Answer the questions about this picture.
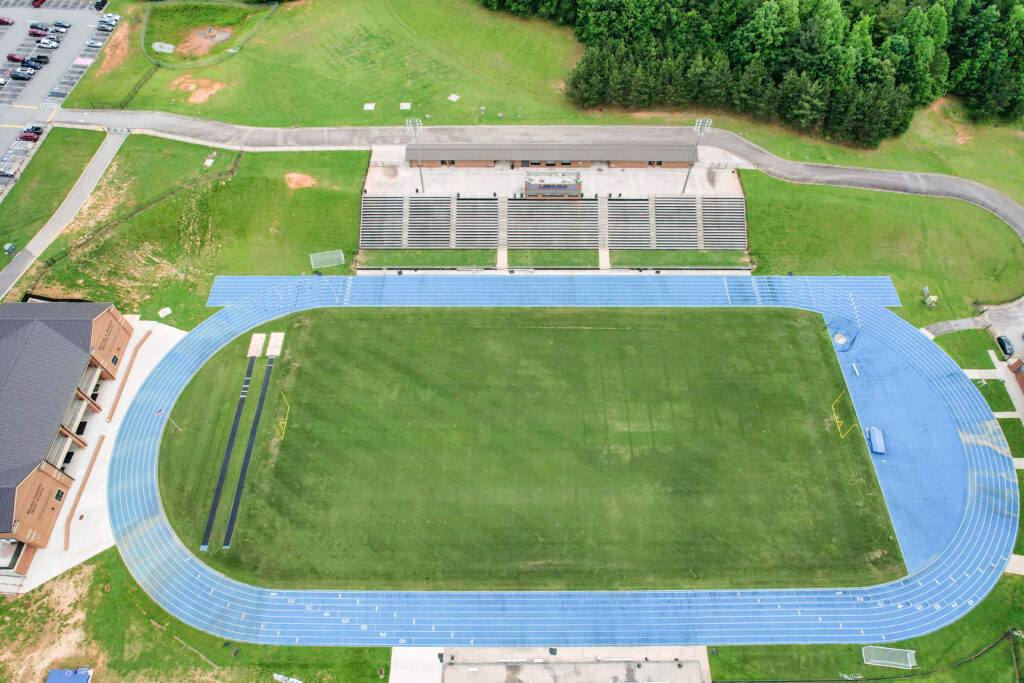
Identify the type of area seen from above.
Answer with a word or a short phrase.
sports ground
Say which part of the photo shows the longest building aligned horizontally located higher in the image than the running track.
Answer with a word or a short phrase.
top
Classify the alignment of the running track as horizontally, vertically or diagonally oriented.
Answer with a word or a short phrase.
horizontally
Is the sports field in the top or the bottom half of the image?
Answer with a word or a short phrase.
bottom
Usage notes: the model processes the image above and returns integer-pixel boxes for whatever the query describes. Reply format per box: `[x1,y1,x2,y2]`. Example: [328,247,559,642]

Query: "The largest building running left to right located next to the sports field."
[403,143,701,167]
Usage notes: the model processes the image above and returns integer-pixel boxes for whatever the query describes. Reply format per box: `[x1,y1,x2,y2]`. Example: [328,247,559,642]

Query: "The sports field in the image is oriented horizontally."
[158,307,907,589]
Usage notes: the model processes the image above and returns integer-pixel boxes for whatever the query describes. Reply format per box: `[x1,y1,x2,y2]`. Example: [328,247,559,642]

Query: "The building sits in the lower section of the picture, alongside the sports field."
[0,300,133,548]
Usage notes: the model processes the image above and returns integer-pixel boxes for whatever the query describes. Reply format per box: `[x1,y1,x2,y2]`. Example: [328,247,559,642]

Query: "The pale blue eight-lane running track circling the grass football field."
[107,275,1019,647]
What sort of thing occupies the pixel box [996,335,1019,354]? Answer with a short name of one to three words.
car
